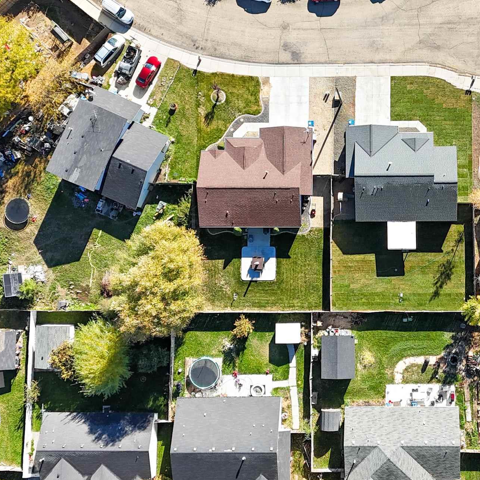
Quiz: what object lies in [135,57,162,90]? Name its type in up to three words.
car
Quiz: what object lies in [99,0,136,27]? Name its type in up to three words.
car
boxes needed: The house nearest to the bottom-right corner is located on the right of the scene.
[337,404,460,480]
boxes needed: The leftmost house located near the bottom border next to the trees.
[36,410,159,480]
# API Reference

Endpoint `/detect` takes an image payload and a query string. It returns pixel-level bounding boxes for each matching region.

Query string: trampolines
[6,198,32,222]
[186,356,221,391]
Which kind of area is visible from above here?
residential area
